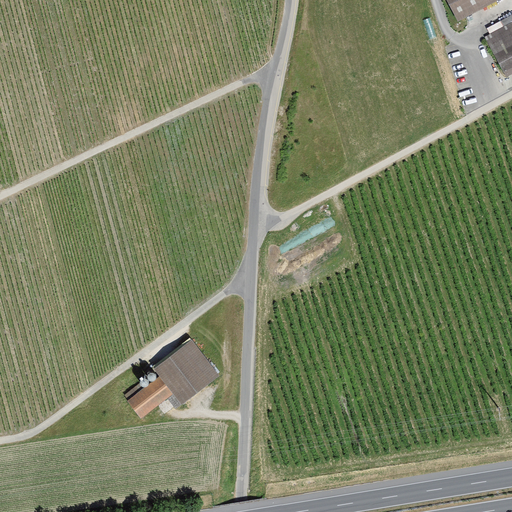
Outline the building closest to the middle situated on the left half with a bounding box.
[154,338,218,404]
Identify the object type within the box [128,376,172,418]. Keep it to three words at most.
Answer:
building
